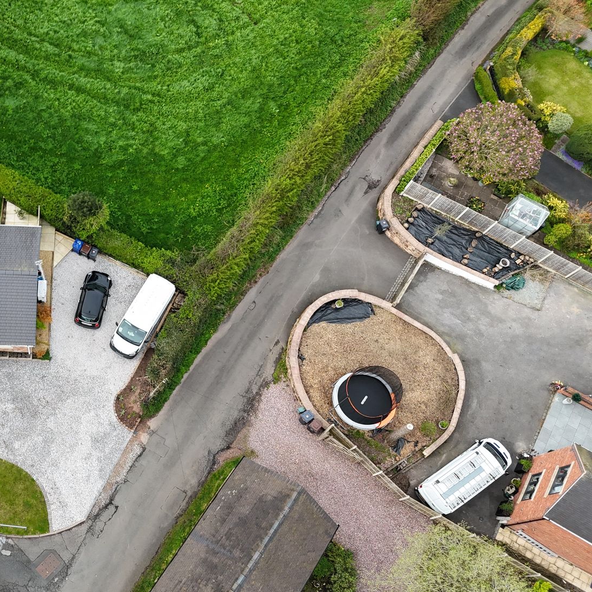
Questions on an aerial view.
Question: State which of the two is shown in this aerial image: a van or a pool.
van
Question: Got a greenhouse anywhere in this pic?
Yes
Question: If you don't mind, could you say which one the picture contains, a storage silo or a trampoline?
trampoline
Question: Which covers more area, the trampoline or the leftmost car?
the trampoline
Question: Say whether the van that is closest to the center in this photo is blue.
No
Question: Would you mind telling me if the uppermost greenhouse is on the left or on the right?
right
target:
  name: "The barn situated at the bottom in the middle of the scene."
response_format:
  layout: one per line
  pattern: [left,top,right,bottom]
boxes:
[150,456,340,592]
